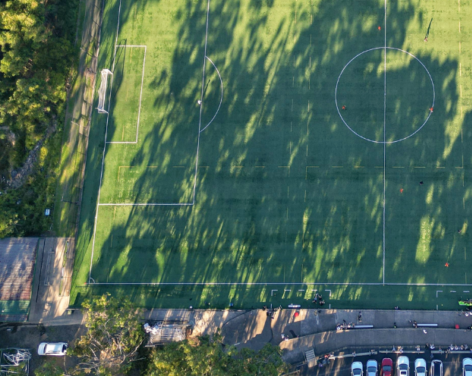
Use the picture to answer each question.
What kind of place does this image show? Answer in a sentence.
The area seen from above is a sports ground.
